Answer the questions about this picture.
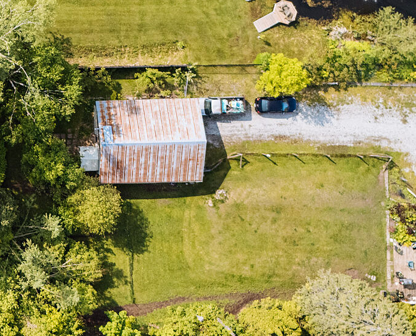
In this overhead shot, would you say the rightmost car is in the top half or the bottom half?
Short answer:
top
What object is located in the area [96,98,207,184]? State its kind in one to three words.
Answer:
barn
